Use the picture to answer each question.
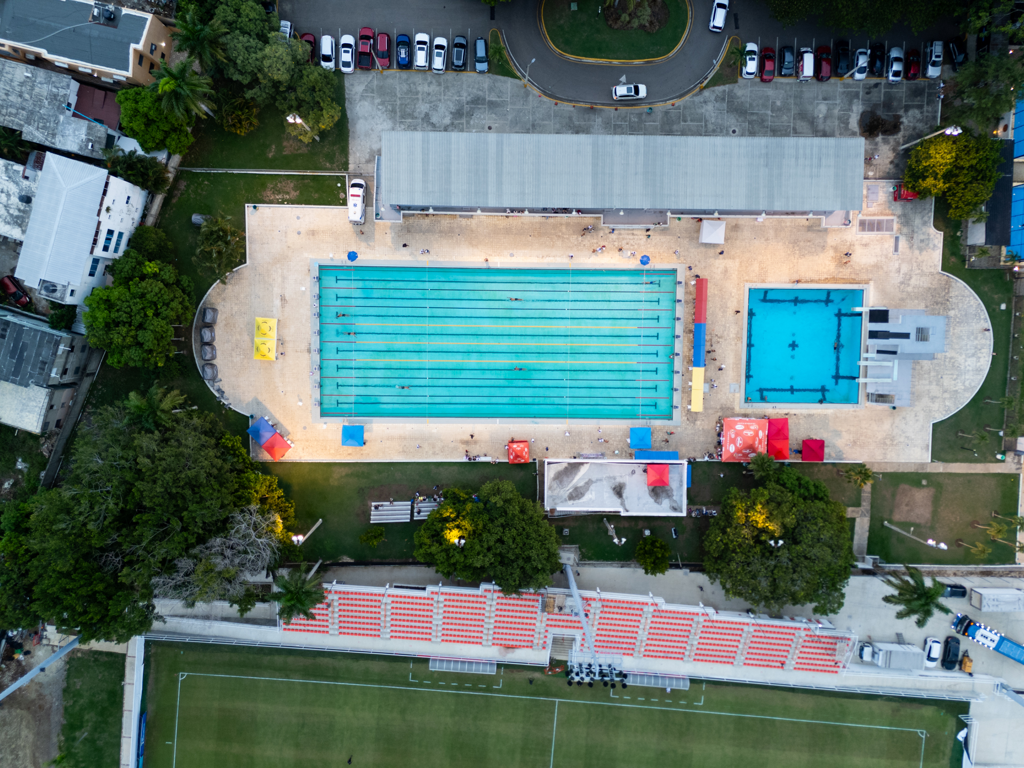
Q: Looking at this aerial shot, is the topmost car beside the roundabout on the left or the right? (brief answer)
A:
right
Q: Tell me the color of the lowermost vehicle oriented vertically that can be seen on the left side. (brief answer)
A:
white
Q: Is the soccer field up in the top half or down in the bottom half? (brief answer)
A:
bottom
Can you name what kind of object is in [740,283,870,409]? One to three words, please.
swimming pool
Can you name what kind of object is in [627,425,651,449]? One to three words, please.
tent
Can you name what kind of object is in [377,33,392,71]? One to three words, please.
car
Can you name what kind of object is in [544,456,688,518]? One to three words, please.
building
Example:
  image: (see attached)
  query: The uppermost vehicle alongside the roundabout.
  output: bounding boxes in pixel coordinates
[707,0,730,37]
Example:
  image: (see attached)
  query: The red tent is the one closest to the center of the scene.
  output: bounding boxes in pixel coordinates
[509,440,529,463]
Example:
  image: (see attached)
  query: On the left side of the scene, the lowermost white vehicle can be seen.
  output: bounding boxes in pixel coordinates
[347,179,368,225]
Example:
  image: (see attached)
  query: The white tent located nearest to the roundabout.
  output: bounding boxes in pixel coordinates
[697,220,726,246]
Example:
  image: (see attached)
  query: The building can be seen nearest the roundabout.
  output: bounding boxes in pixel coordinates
[374,132,865,230]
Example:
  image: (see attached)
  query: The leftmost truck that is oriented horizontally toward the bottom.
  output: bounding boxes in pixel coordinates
[861,644,926,673]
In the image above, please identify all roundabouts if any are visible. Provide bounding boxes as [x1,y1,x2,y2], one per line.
[534,0,698,70]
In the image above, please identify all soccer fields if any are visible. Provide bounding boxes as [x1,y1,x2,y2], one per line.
[139,640,968,768]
